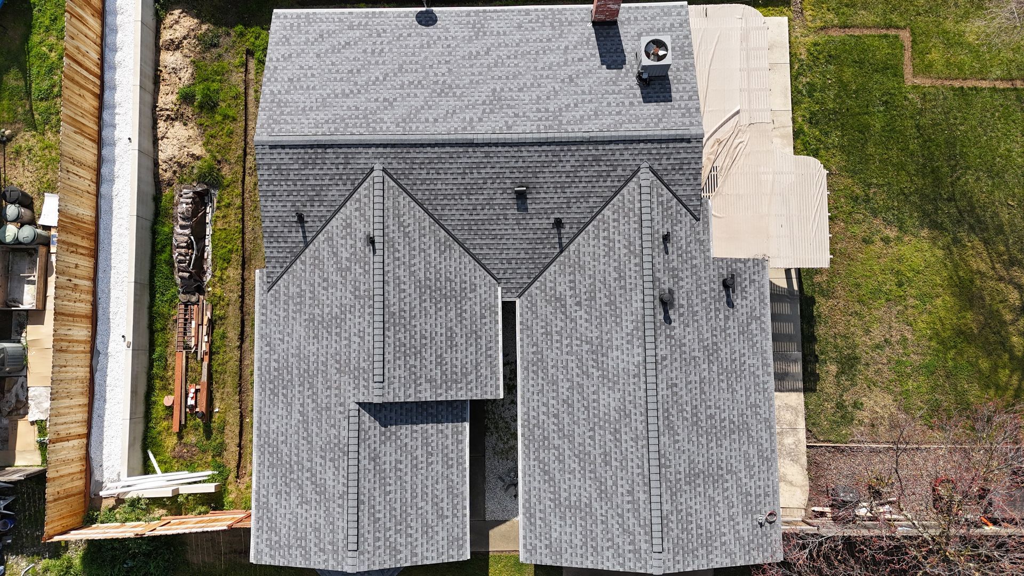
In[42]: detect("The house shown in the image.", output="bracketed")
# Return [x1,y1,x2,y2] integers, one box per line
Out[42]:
[250,0,783,576]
